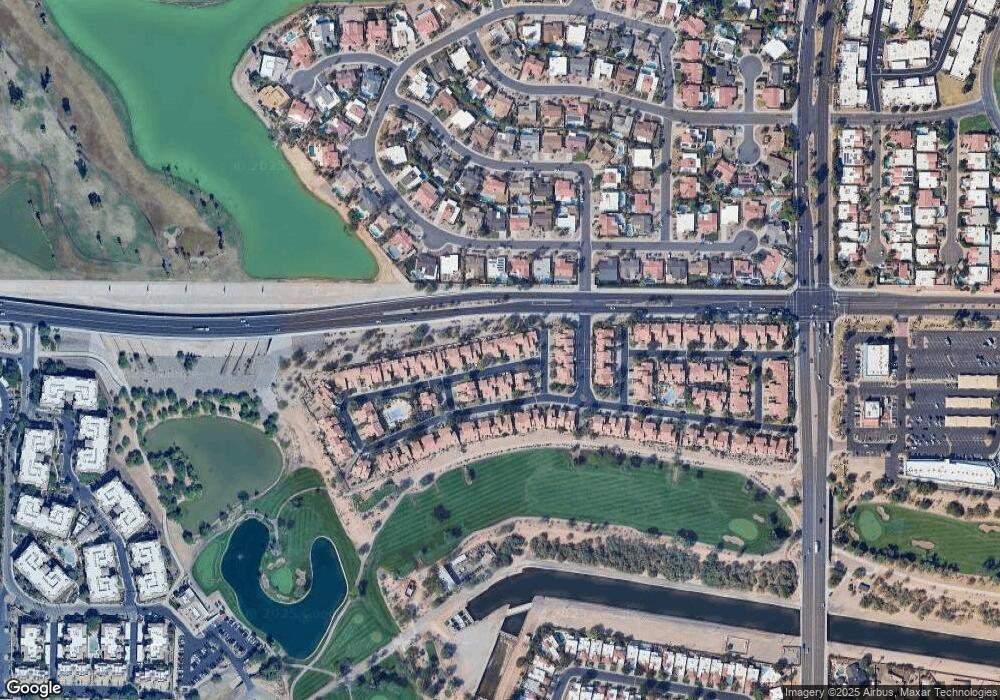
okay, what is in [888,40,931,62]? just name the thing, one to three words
building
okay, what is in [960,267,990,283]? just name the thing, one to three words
house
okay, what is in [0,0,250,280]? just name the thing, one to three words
golf course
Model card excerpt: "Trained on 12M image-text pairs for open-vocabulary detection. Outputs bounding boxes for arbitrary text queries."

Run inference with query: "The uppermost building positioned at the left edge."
[38,375,98,411]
